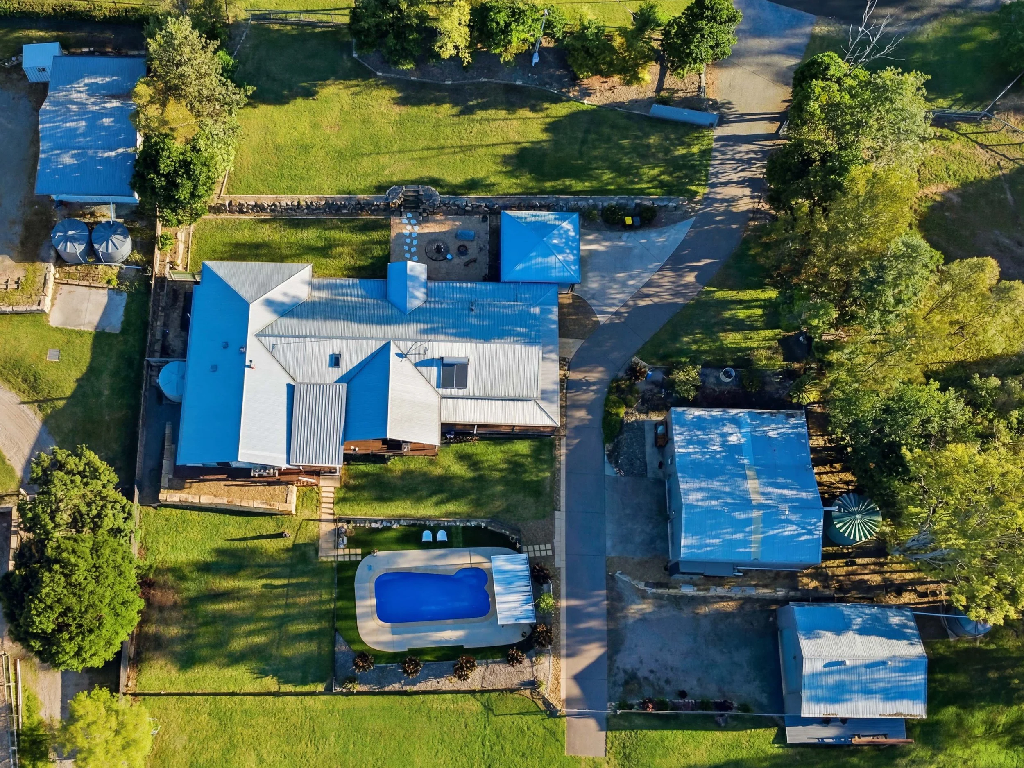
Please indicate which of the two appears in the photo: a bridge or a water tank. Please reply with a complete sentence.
Of the two, only a water tank appears.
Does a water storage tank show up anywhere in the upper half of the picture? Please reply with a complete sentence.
Yes, a water storage tank can be seen in the upper half of the picture.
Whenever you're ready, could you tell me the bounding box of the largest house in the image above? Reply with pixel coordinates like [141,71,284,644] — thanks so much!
[173,260,561,483]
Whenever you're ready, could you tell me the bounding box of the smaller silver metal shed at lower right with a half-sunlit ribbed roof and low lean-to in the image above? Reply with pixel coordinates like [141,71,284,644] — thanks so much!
[778,602,975,744]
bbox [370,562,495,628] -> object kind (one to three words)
swimming pool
